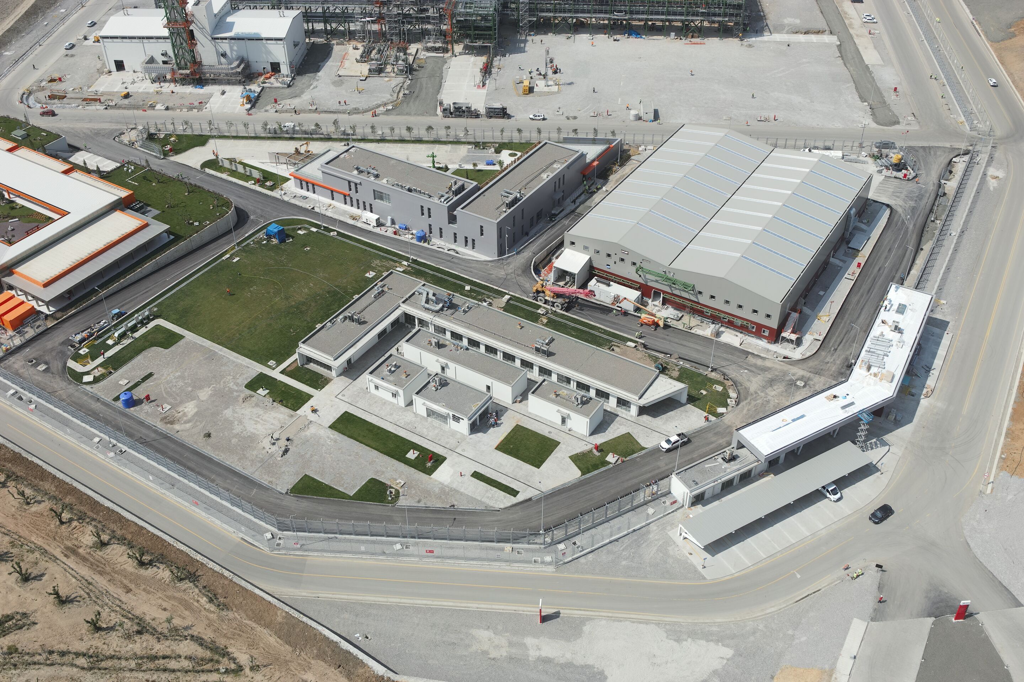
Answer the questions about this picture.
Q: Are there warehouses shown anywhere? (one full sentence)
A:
Yes, the image includes a warehouse.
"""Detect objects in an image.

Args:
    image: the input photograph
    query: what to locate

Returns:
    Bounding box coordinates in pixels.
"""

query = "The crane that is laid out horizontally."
[527,279,593,313]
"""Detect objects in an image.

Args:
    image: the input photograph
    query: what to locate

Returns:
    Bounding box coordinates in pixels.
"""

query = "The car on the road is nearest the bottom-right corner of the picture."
[870,500,895,521]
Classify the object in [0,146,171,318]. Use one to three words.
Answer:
building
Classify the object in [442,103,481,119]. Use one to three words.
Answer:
vehicle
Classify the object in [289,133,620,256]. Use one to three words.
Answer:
building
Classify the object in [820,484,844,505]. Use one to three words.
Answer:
vehicle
